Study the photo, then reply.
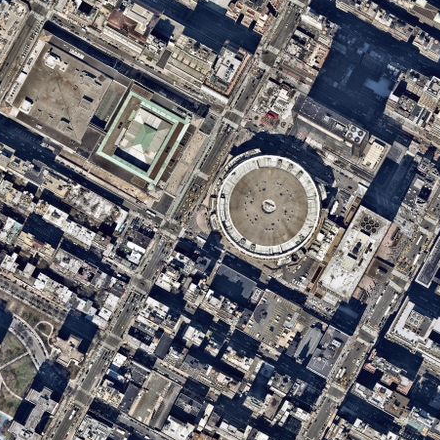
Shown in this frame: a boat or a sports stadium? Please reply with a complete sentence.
The image shows a sports stadium.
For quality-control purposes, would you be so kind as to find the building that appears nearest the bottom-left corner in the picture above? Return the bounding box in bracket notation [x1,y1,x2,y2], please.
[6,383,64,440]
